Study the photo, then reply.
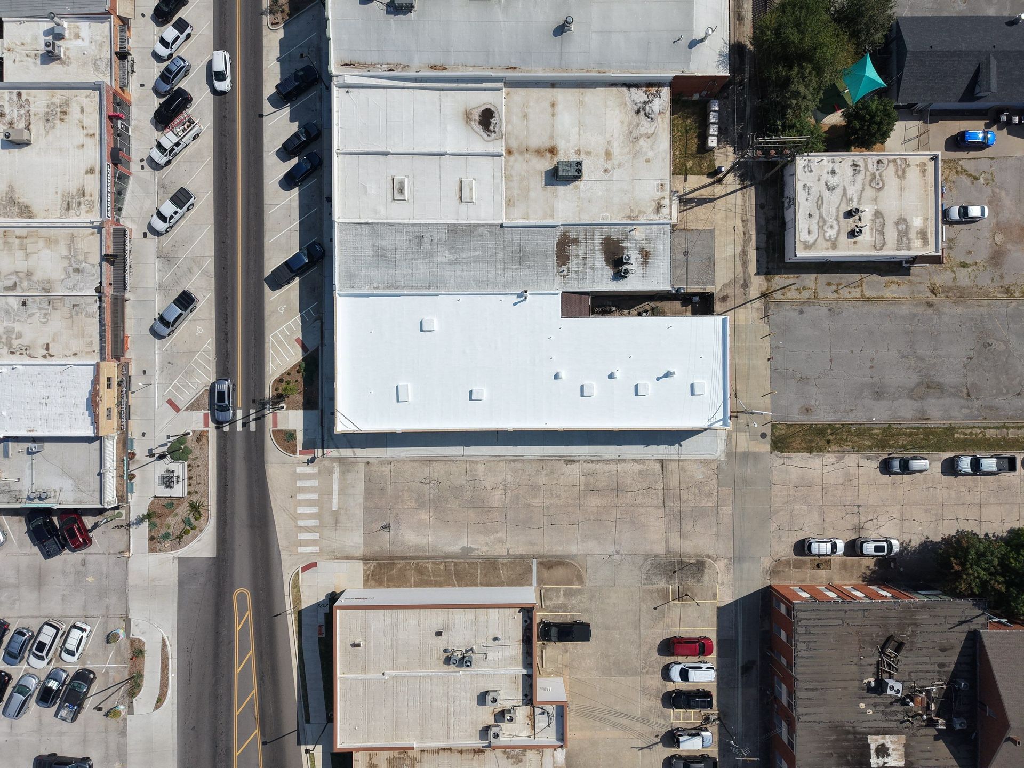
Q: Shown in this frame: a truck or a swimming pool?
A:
truck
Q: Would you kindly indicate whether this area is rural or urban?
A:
urban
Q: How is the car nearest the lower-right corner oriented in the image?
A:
horizontally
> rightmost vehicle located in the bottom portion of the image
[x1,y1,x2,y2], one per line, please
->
[955,454,1019,476]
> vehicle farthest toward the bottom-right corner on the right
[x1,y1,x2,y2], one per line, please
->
[854,538,900,560]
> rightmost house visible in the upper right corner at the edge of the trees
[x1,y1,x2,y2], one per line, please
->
[889,12,1024,113]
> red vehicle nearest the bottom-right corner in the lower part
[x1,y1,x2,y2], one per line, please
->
[669,636,714,660]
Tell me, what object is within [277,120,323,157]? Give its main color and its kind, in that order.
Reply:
black car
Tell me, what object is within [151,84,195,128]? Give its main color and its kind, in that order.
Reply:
black car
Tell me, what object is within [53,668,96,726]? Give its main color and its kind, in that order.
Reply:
black truck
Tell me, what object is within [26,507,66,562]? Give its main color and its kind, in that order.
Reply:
black truck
